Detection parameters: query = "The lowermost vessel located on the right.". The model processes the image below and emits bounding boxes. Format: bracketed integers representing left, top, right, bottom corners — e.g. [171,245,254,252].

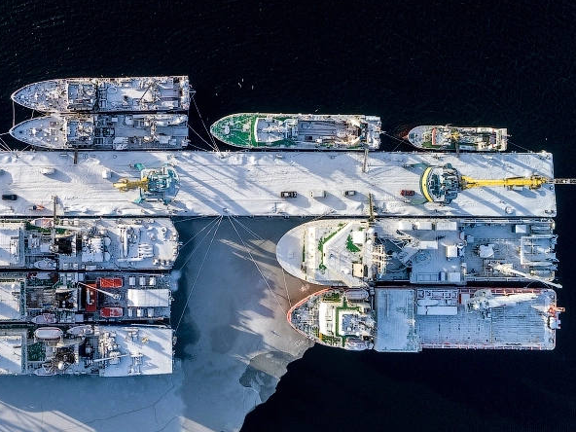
[287,285,563,354]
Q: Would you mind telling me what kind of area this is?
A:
port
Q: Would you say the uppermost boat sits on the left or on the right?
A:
left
